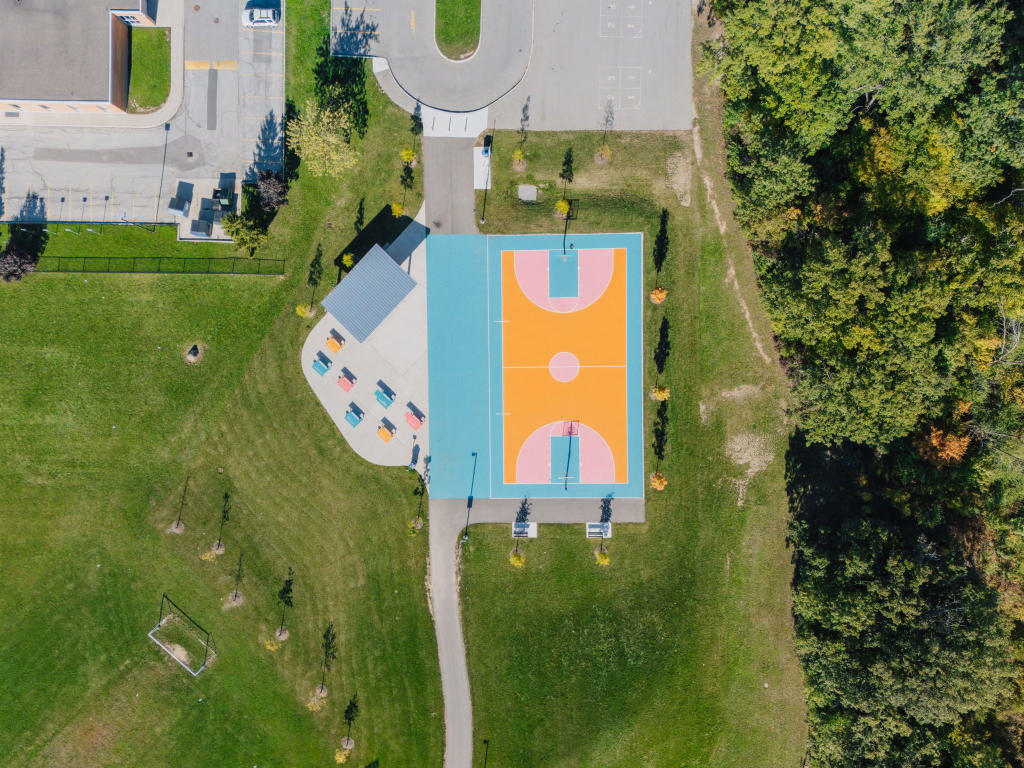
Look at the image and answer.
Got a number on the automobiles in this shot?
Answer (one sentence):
I count 1 automobile.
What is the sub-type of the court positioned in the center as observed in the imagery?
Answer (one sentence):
The court positioned in the center in the image is a basketball court.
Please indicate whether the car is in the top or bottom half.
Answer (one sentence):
The car sits in the top half of the picture.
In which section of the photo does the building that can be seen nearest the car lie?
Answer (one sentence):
The building that can be seen nearest the car is located in the top left region of the scene.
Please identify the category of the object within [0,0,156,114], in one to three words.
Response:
building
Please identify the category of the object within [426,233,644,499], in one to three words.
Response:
basketball court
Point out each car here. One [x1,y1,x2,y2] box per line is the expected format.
[241,7,279,28]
